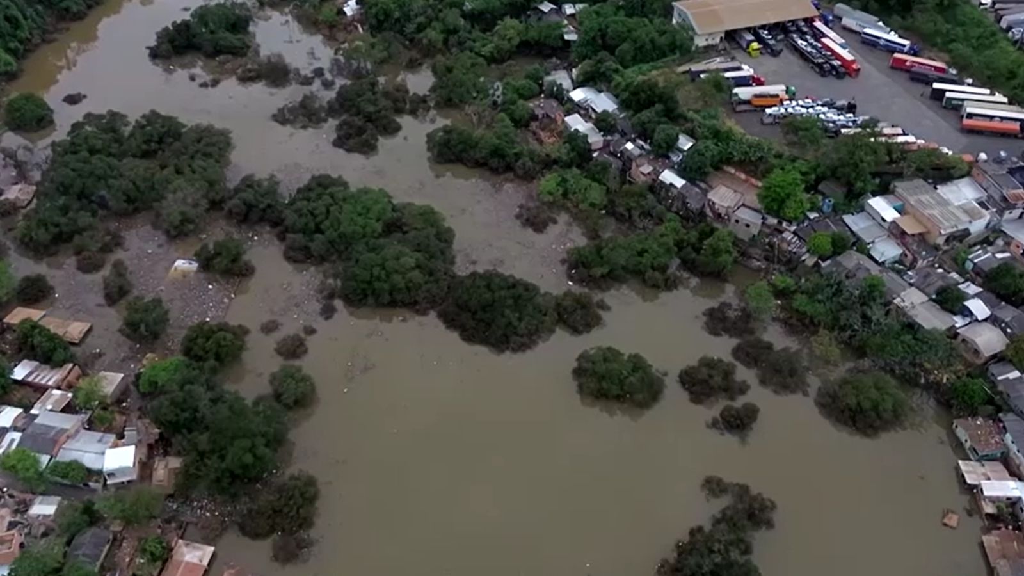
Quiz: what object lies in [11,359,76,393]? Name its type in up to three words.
house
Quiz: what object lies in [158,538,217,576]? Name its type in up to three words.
house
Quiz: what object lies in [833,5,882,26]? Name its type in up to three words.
truck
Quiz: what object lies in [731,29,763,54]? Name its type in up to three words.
truck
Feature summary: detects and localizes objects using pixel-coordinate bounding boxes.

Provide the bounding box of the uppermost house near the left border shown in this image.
[0,183,39,215]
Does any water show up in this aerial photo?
Yes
